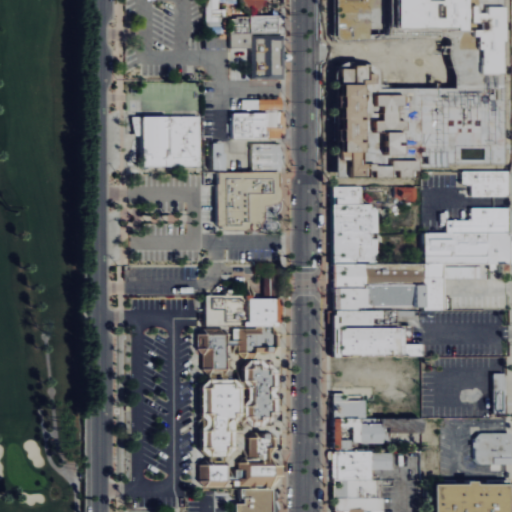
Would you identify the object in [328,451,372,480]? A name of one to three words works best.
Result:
building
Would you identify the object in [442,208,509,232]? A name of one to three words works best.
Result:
building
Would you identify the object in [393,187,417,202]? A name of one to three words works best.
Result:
house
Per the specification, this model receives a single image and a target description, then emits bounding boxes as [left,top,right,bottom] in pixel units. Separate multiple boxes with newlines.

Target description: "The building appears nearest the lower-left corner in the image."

[195,464,230,488]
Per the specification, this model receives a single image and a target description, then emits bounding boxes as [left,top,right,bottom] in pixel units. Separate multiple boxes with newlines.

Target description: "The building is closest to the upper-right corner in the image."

[470,7,507,76]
